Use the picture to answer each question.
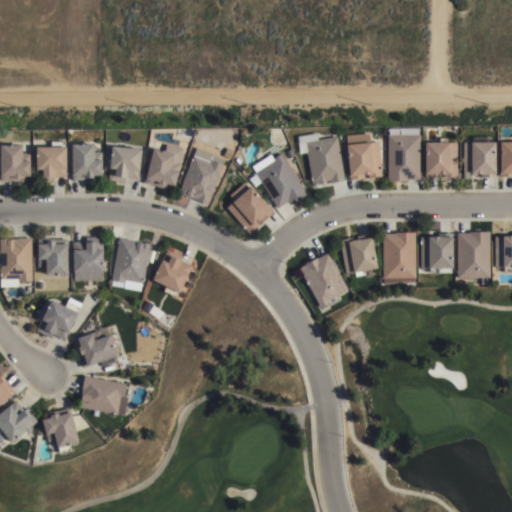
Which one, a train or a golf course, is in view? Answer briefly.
golf course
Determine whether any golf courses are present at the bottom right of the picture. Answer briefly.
Yes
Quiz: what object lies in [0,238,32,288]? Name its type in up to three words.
house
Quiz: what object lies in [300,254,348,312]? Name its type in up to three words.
house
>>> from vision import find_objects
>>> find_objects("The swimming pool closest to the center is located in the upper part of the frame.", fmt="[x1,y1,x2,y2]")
[246,142,260,166]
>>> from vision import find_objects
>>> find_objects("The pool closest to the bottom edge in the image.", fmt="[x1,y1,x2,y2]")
[38,439,53,461]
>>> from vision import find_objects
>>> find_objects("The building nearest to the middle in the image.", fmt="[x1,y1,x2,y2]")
[228,183,272,230]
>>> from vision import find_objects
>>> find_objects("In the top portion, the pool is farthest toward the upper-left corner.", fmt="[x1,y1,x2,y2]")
[154,132,180,144]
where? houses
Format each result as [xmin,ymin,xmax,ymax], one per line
[420,236,455,274]
[458,232,492,284]
[36,141,67,183]
[383,236,416,284]
[72,236,108,281]
[184,149,227,204]
[108,147,142,184]
[40,410,81,454]
[464,137,498,177]
[496,236,512,272]
[112,238,150,292]
[146,142,183,186]
[0,144,32,182]
[82,376,127,416]
[38,239,69,276]
[0,238,32,288]
[426,142,458,178]
[0,400,35,444]
[300,254,348,312]
[502,142,512,178]
[76,330,119,364]
[72,144,103,180]
[249,154,306,207]
[228,183,272,230]
[348,134,384,182]
[154,248,196,297]
[388,128,422,182]
[342,238,379,278]
[37,298,82,340]
[298,134,344,183]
